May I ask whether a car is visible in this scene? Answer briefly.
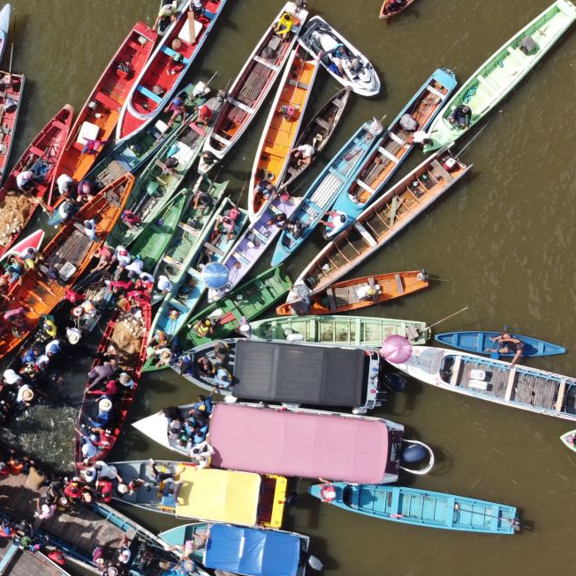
No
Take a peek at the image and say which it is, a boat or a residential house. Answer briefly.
boat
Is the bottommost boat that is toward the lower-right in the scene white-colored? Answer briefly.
No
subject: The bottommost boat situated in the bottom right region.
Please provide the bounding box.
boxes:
[308,482,530,535]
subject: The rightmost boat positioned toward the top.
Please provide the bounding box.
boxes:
[419,0,576,155]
